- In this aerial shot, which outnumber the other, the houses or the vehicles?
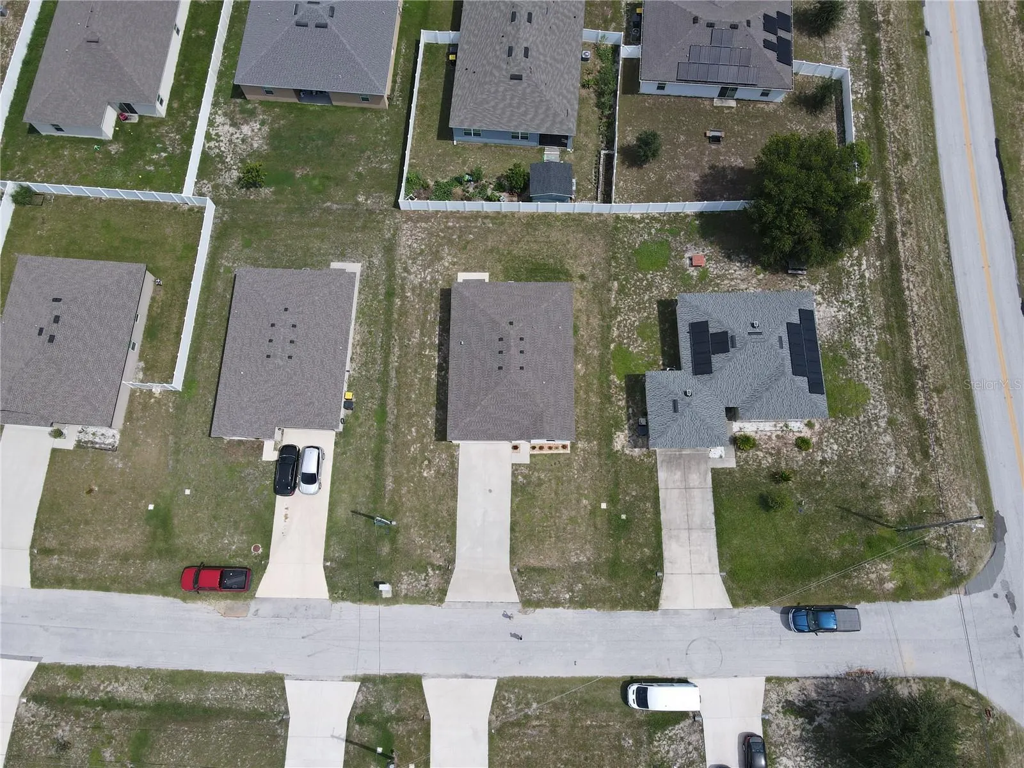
houses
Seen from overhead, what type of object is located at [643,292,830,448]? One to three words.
house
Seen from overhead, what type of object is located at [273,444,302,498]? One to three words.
car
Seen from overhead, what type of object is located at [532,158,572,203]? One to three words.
shed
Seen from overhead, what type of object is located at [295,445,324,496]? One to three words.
car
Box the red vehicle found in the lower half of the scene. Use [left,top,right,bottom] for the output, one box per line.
[179,564,254,594]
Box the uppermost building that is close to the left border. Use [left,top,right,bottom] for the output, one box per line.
[21,0,193,139]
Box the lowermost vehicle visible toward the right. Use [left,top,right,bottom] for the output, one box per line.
[741,734,768,768]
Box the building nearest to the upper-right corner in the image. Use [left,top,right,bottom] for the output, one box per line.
[639,0,794,104]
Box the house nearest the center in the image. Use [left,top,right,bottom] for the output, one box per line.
[446,282,578,445]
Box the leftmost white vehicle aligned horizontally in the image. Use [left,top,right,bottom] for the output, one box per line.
[625,680,704,714]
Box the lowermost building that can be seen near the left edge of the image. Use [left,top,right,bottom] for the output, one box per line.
[0,255,152,427]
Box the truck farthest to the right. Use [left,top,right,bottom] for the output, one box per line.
[785,605,865,636]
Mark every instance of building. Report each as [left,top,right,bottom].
[643,292,830,448]
[21,0,193,139]
[449,0,583,147]
[639,0,794,104]
[210,268,357,440]
[235,0,403,108]
[532,158,572,203]
[446,282,578,445]
[0,255,152,427]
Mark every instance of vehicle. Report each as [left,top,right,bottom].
[785,605,865,636]
[625,680,704,714]
[295,445,324,496]
[273,444,302,498]
[179,564,254,594]
[741,734,768,768]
